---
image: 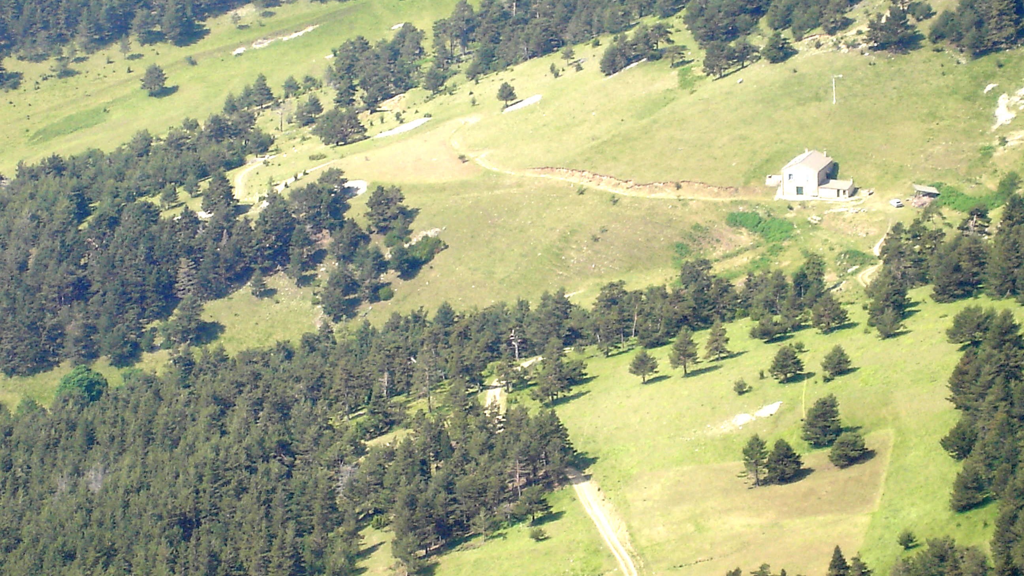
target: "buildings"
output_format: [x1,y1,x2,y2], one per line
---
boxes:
[770,148,855,203]
[915,183,947,202]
